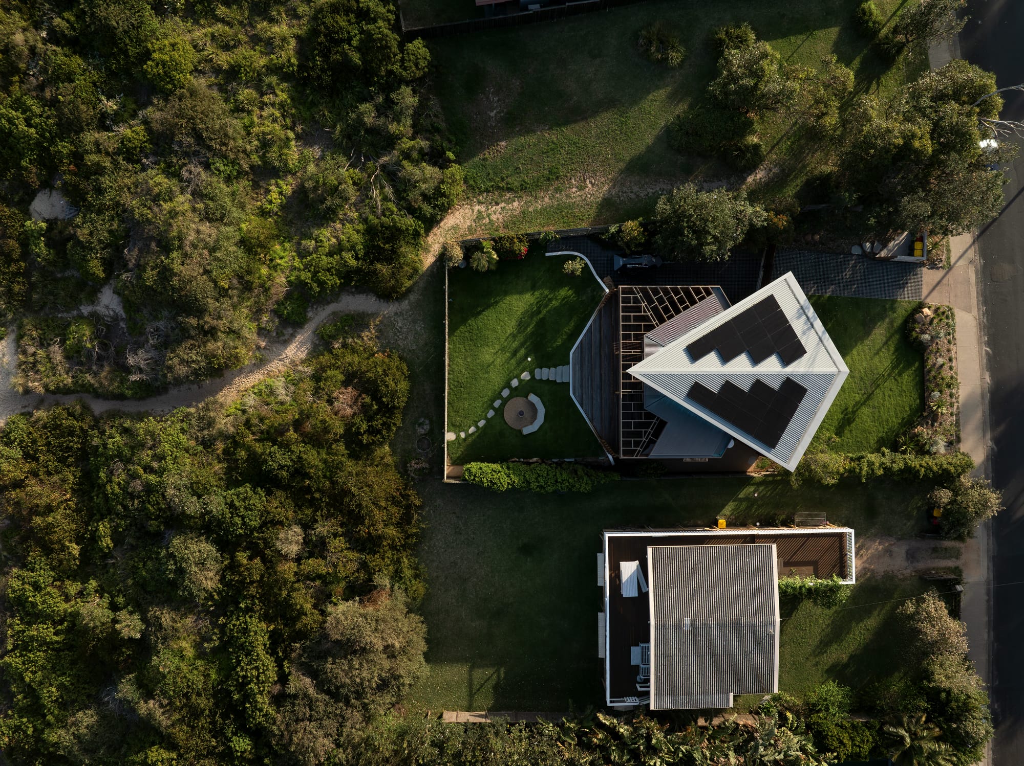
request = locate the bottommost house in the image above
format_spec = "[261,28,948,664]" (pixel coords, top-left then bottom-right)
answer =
[597,523,855,711]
